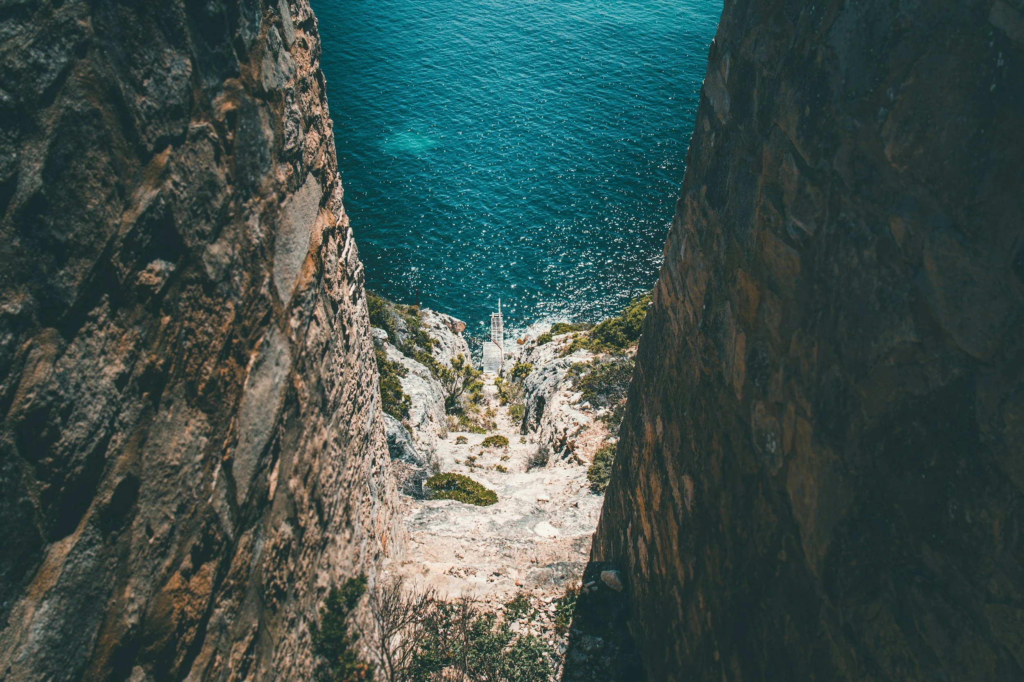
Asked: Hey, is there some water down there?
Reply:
Yes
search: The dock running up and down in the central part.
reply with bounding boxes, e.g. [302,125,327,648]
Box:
[482,296,504,373]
